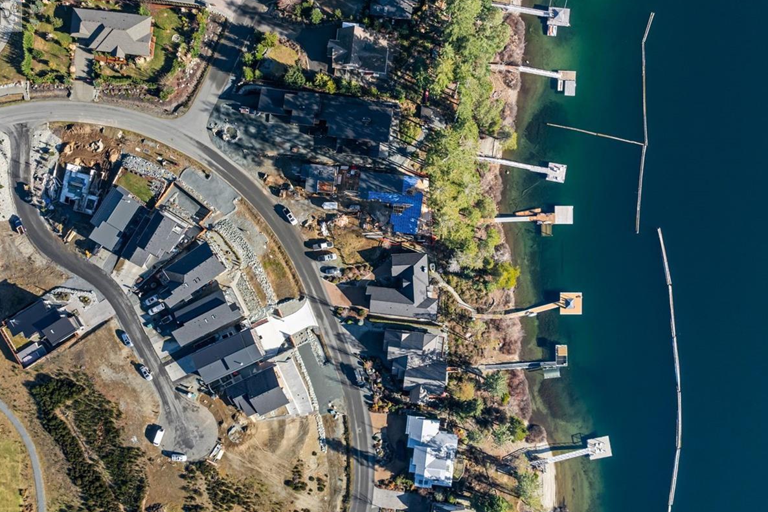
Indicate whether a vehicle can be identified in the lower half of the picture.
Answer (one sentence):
Yes, the scene does show a vehicle in the lower half of the picture.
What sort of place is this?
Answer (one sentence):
The picture captures a residential area.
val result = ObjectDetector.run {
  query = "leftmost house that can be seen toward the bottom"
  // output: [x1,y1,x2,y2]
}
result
[8,298,85,367]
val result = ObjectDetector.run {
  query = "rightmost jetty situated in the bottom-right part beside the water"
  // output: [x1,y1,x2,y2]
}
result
[531,435,614,467]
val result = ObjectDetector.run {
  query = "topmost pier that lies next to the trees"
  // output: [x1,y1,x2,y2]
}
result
[492,0,571,26]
